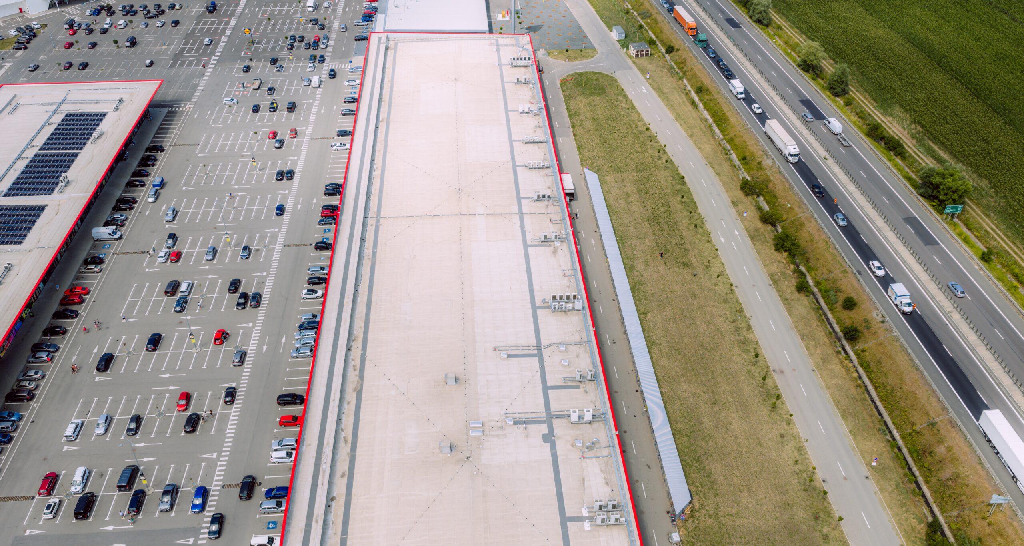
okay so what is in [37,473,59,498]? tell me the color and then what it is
red car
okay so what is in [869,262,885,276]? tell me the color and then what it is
white car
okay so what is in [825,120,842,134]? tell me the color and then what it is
white vehicle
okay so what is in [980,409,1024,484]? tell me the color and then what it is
white trailer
